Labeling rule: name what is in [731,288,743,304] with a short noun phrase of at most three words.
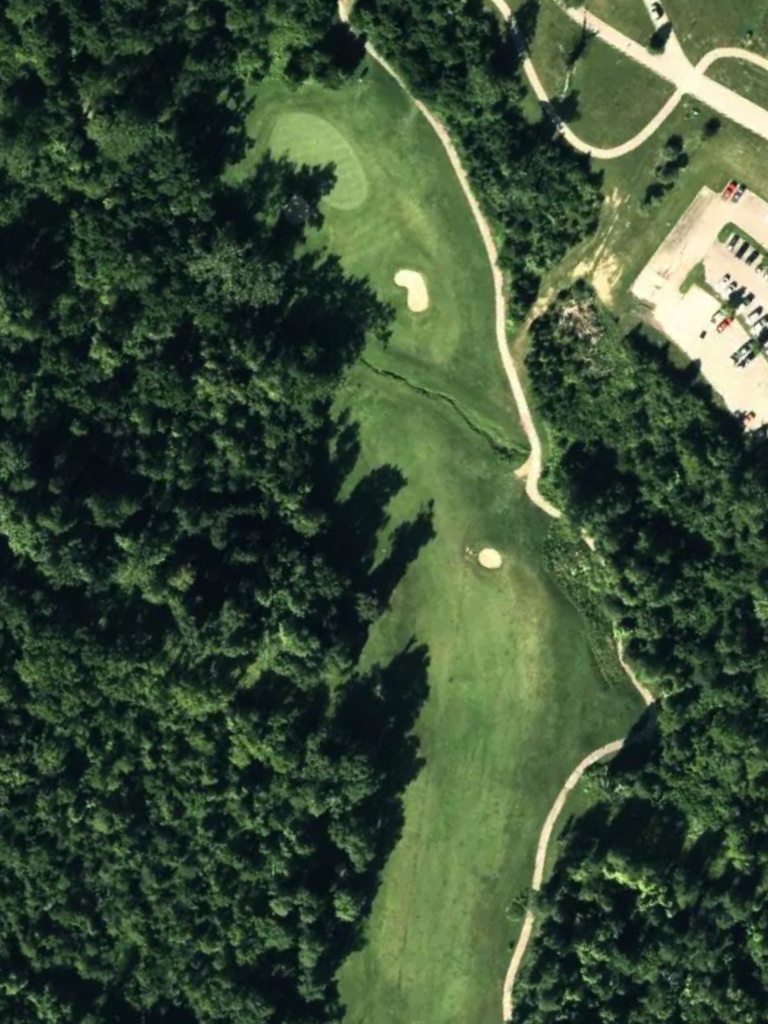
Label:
vehicle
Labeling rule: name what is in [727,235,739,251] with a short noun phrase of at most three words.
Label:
vehicle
